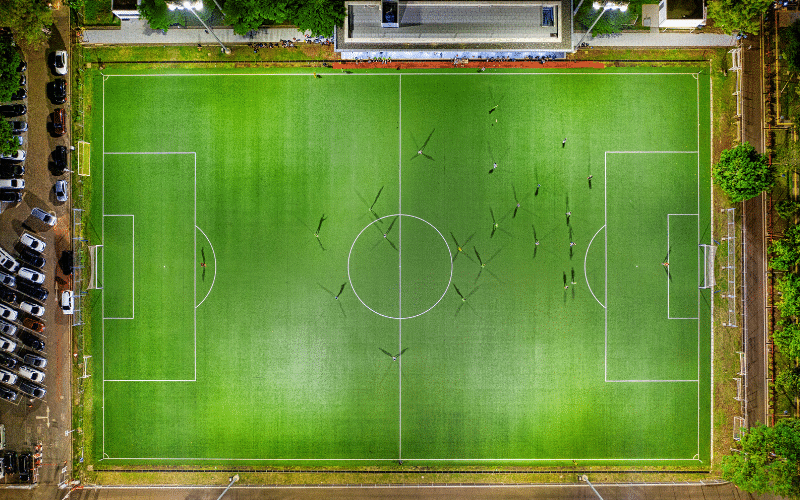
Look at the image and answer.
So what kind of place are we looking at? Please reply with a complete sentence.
The area seen from above is a sports ground.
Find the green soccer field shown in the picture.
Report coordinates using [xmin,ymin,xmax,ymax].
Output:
[93,66,711,466]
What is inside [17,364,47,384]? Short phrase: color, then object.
white car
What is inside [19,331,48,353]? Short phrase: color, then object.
black car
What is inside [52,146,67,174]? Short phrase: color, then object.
black car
